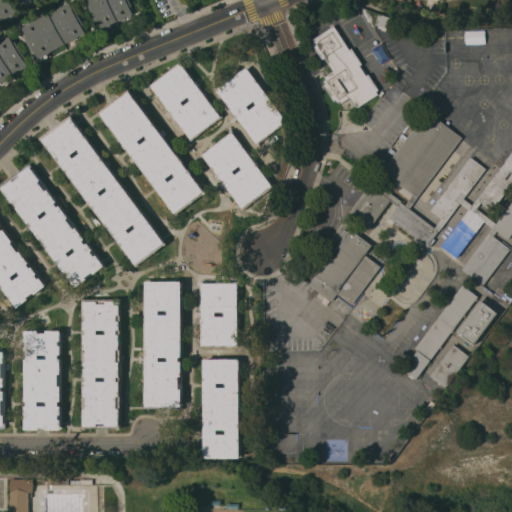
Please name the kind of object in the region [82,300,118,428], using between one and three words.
building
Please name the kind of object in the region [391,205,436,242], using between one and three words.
building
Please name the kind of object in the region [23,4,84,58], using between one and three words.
house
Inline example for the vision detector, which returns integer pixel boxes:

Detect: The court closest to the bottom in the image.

[325,440,348,462]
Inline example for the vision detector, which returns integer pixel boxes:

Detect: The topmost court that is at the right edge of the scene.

[446,29,512,144]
